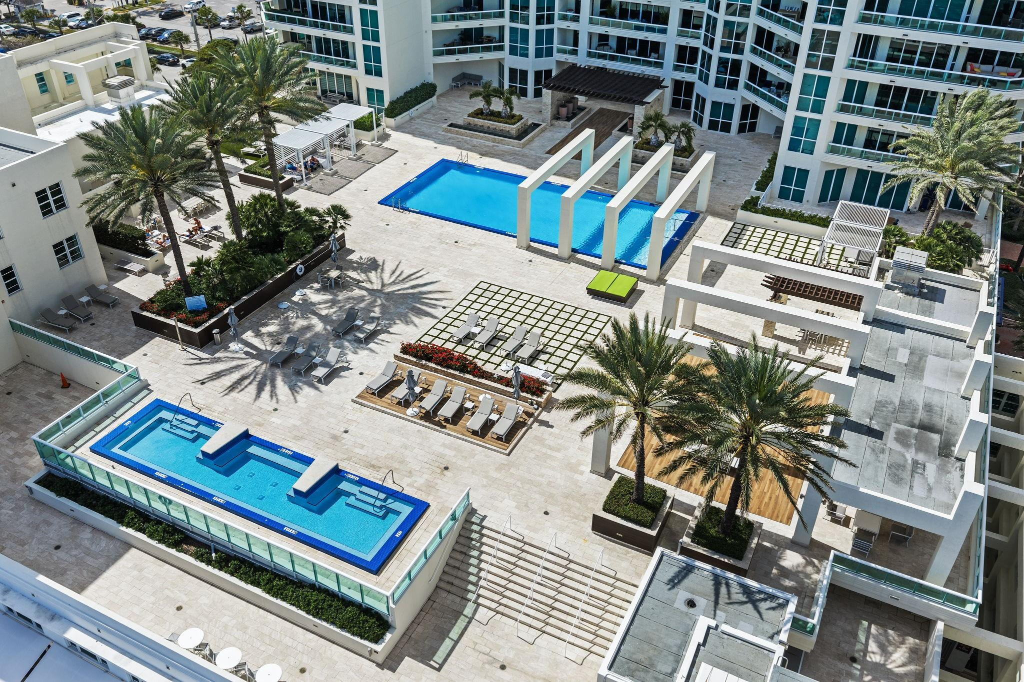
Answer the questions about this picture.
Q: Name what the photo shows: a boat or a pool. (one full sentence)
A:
Visible in the photo is a pool.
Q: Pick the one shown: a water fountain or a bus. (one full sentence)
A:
The one in the frame is a water fountain.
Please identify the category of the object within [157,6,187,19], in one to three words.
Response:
vehicle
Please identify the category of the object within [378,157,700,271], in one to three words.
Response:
swimming pool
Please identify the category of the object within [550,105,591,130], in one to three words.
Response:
fountain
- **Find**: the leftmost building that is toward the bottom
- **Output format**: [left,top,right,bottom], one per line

[0,570,216,682]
